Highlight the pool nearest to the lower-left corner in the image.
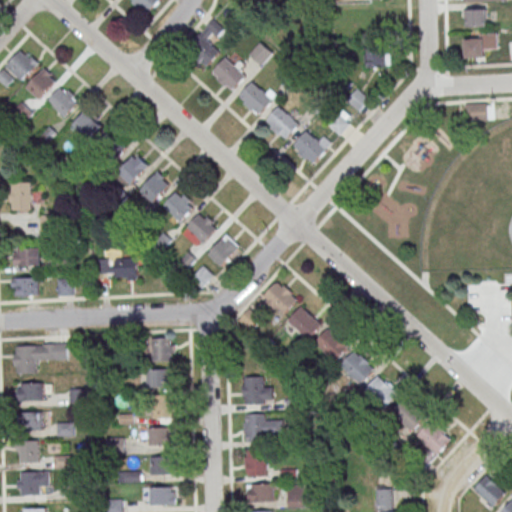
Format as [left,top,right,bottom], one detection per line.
[126,456,140,470]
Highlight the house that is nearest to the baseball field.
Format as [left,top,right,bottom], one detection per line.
[466,102,496,122]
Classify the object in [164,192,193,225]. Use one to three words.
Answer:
house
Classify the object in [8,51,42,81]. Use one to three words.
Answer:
house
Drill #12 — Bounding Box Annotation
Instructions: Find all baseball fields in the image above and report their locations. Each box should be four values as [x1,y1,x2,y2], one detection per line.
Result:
[420,116,512,271]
